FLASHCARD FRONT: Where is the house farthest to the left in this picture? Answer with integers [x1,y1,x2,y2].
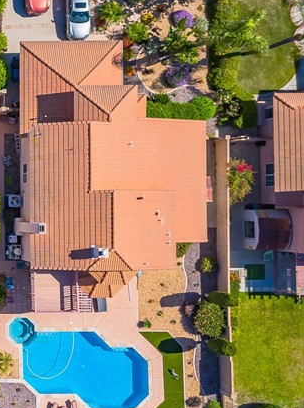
[10,39,209,299]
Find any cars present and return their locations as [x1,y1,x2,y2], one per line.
[61,0,93,41]
[20,0,48,18]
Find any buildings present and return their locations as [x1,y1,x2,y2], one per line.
[259,92,304,256]
[10,39,209,299]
